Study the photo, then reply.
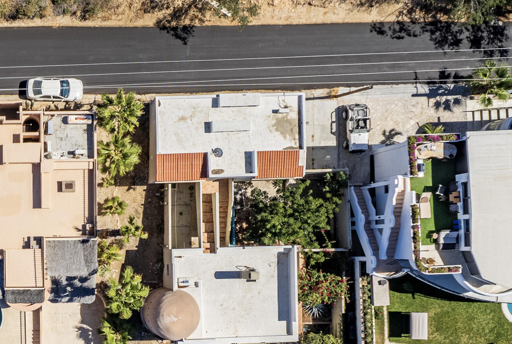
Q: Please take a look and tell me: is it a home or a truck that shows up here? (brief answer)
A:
home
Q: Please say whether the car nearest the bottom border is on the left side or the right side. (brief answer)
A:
right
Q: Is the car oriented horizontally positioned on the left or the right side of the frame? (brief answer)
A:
left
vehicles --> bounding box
[28,76,82,102]
[342,103,372,154]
